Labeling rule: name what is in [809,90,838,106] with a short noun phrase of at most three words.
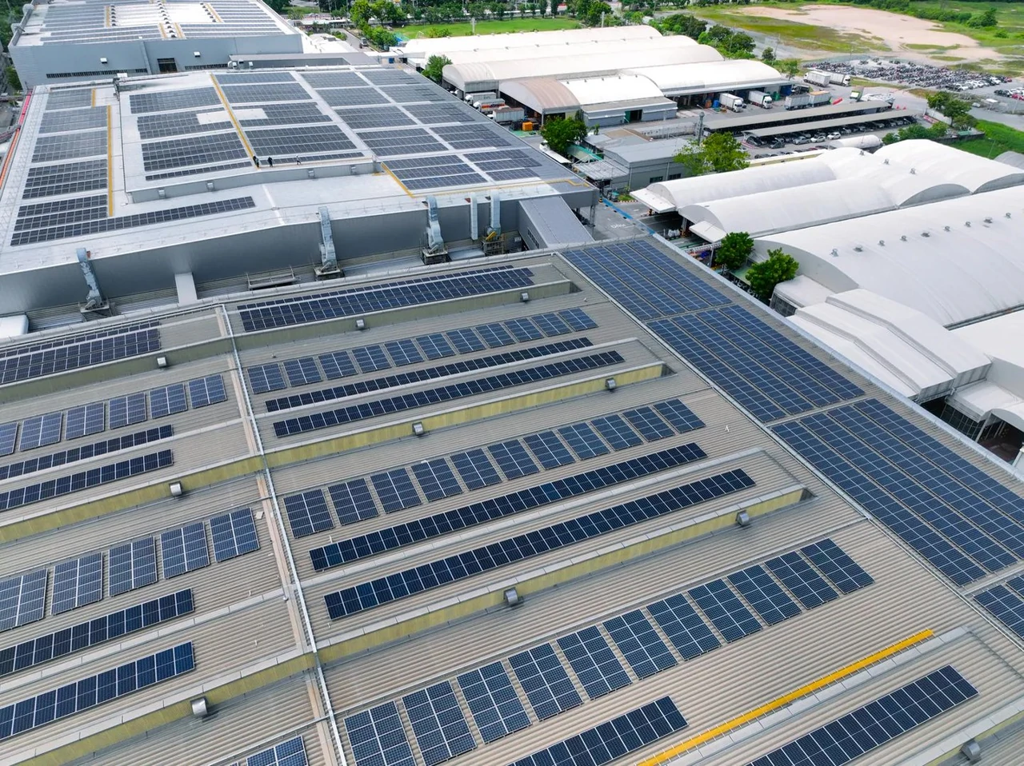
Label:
vehicle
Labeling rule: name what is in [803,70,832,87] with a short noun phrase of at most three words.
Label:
vehicle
